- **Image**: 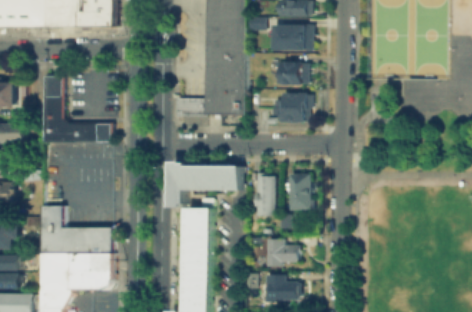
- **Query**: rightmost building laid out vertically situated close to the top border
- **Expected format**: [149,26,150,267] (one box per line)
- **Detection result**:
[206,0,251,113]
